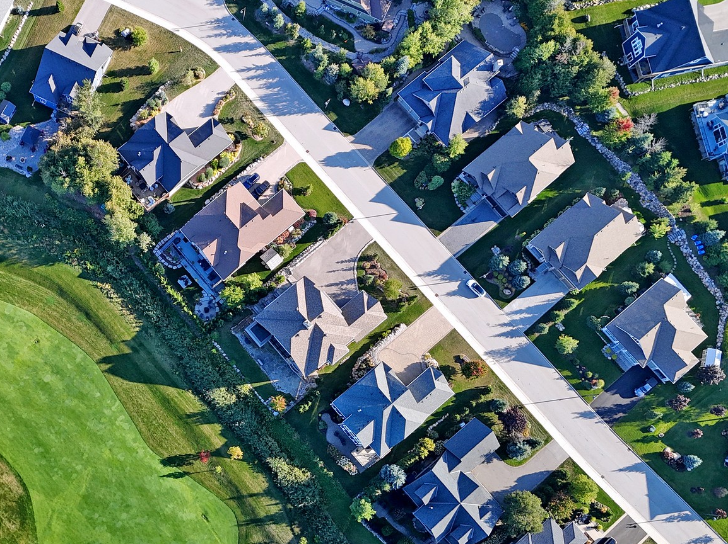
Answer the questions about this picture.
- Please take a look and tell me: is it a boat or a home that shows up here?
home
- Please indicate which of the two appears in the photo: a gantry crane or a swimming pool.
swimming pool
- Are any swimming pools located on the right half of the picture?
Yes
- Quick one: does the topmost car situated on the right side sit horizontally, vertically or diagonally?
diagonally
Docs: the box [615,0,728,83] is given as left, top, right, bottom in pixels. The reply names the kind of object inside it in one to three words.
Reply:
house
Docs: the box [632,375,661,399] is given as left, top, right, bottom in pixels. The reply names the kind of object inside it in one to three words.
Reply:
truck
